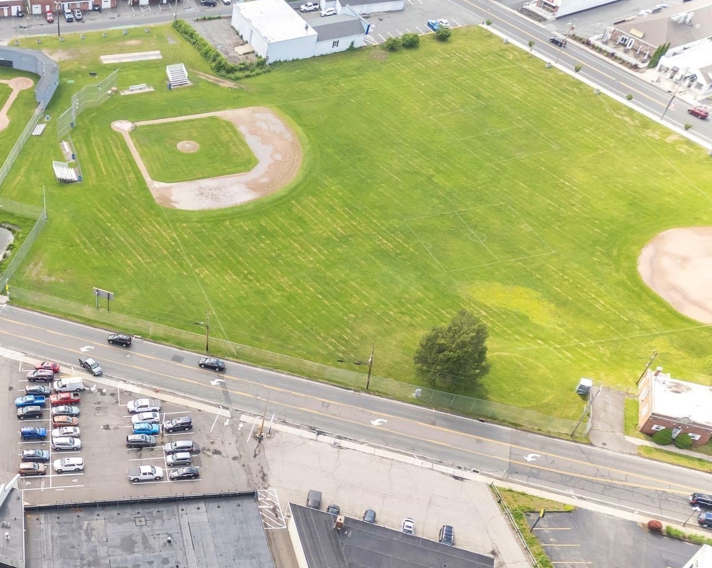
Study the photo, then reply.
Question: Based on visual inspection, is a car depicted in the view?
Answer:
Yes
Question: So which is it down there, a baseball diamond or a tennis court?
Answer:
baseball diamond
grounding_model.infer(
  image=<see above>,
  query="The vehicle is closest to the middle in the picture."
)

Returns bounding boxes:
[198,357,226,373]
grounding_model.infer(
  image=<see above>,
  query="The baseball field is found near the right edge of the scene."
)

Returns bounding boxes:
[521,94,712,349]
